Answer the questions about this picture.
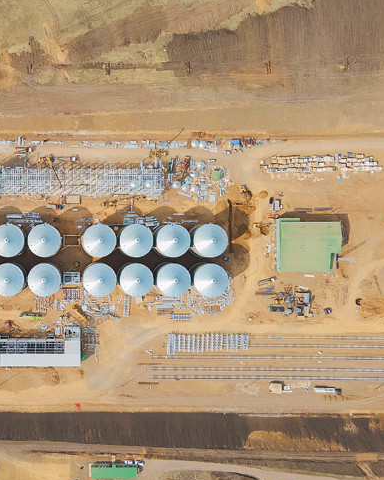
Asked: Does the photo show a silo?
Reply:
Yes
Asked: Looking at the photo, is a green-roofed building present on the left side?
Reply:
Yes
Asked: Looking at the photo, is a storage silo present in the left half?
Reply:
Yes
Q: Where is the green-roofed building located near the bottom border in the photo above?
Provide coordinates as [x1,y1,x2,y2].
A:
[90,455,137,479]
